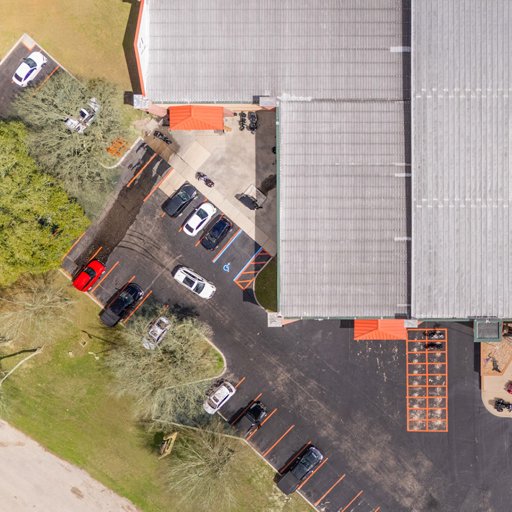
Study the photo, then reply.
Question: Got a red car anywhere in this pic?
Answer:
Yes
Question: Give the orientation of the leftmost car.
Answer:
on a diagonal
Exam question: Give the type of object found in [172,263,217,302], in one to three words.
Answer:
car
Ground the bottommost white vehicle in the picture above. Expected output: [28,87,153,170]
[200,377,239,417]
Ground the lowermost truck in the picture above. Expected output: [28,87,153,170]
[275,446,325,496]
